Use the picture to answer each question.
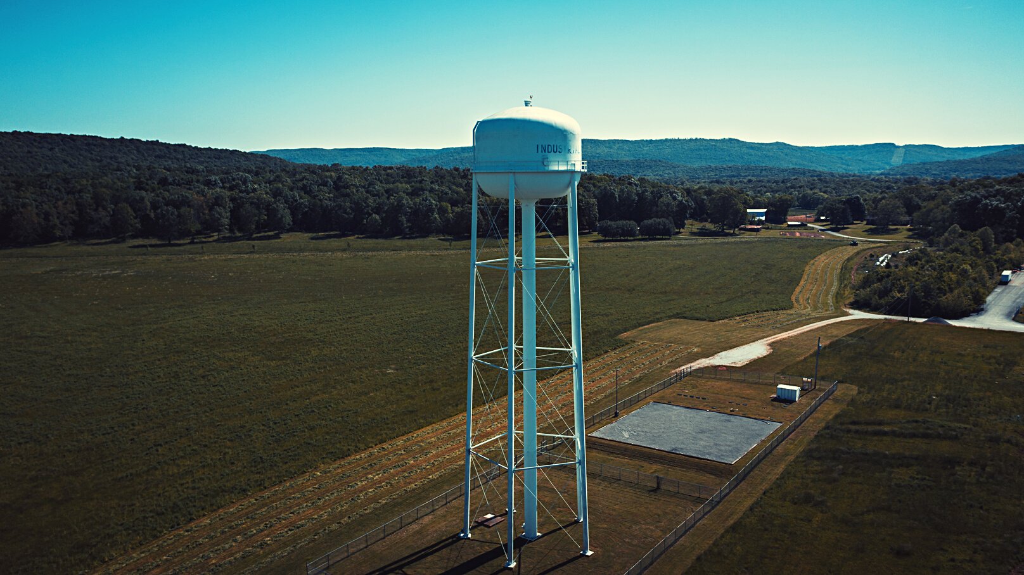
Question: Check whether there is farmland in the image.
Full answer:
Yes, there's farmland in this view.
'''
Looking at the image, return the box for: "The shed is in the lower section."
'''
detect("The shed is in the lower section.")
[776,383,803,402]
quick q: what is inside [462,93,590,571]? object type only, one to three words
water tower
